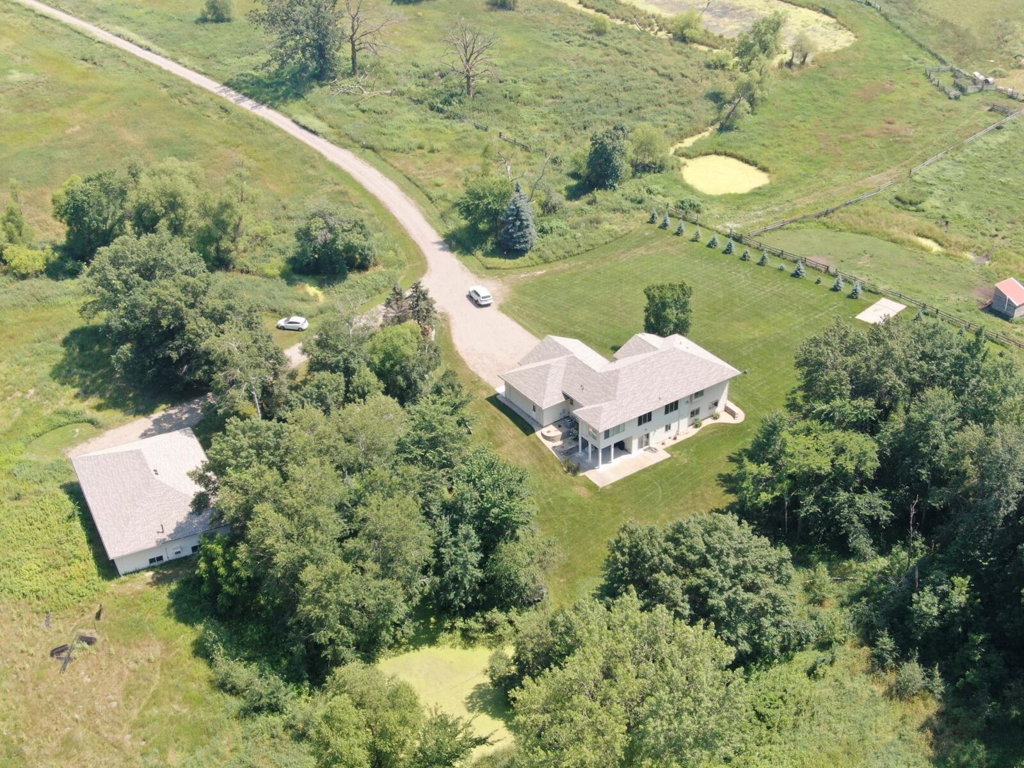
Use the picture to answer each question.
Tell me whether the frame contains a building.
Yes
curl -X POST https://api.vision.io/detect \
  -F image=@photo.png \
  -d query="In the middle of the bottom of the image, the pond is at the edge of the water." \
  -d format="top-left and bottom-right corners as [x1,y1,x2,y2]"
[359,621,536,768]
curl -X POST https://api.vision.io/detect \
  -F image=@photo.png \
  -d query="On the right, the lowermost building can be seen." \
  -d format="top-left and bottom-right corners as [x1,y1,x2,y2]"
[496,333,742,468]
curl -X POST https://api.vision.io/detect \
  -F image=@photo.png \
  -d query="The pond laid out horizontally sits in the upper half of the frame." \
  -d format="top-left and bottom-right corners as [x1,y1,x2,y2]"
[682,154,770,195]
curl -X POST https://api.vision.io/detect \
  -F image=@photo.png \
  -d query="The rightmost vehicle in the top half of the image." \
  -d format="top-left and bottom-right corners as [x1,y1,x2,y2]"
[469,288,494,307]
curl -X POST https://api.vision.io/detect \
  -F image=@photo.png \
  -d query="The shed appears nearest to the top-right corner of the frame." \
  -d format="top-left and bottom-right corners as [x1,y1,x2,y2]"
[993,278,1024,316]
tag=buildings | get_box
[69,428,240,574]
[993,278,1024,316]
[496,333,742,468]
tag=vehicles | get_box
[276,316,308,332]
[469,288,494,307]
